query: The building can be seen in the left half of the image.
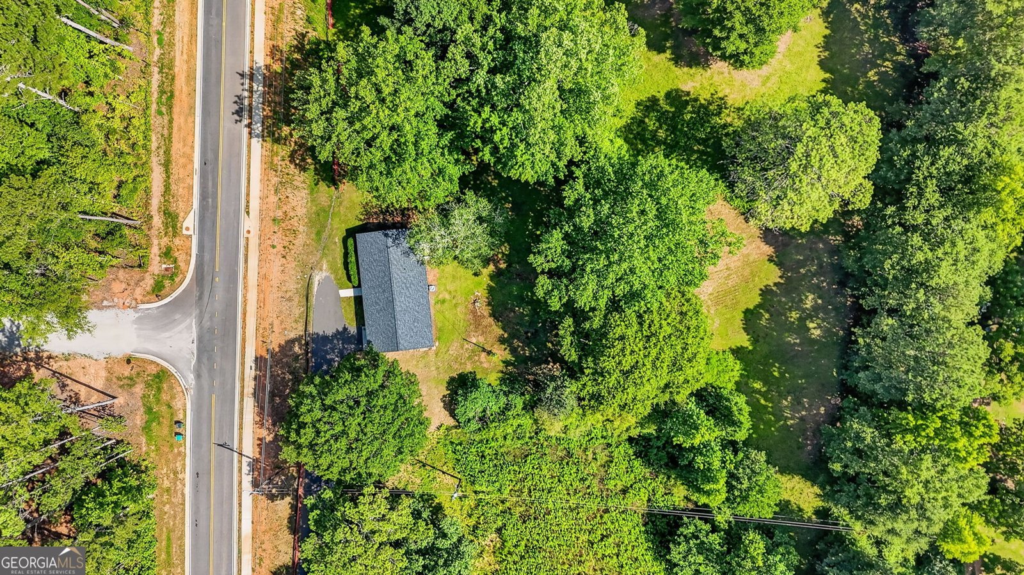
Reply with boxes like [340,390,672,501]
[355,228,434,353]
